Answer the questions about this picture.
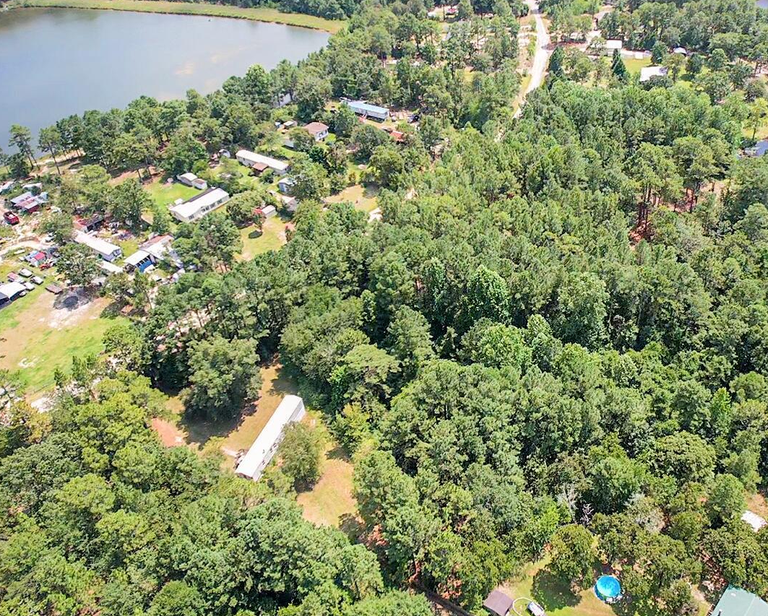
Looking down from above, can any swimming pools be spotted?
Yes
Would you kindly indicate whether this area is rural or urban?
rural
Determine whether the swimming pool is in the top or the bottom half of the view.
bottom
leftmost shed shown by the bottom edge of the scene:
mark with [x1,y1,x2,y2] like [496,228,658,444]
[485,590,513,616]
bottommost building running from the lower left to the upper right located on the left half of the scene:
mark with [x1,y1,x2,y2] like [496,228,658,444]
[232,395,303,483]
